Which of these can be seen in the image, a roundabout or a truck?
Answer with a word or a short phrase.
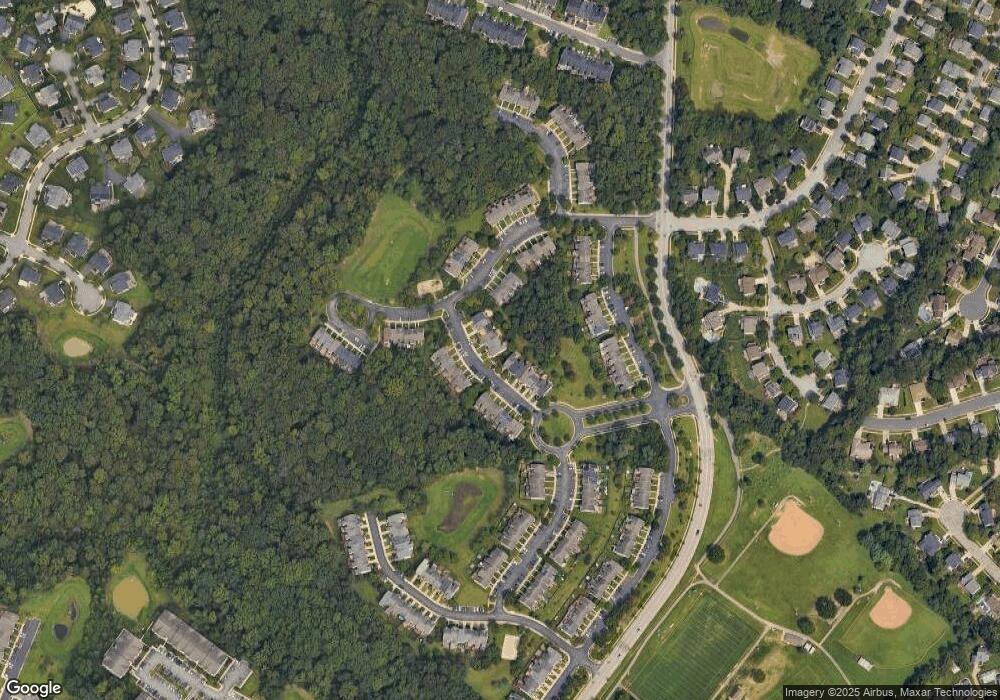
roundabout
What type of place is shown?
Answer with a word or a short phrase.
residential area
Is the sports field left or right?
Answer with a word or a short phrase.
right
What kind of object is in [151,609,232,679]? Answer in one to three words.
building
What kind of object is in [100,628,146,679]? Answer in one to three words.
building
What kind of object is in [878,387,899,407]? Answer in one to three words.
house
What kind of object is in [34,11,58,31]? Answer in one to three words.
house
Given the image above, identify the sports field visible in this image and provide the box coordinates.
[610,587,765,700]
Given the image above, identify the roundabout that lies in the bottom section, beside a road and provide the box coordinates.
[531,404,582,453]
